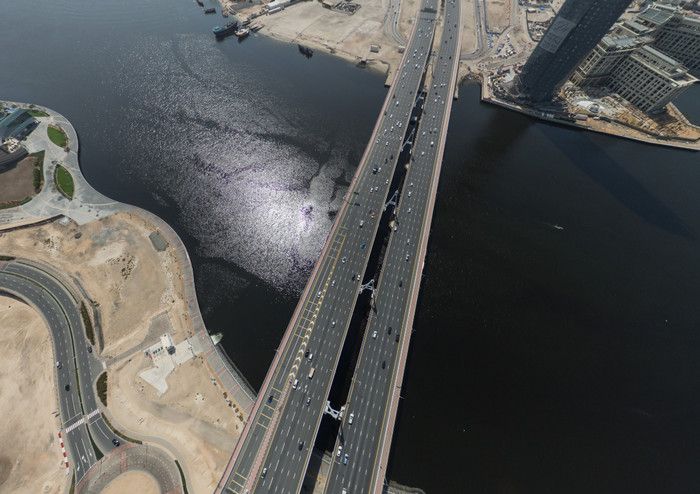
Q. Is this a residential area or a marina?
marina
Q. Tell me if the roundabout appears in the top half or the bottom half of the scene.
bottom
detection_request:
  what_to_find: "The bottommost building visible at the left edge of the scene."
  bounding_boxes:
[0,150,34,179]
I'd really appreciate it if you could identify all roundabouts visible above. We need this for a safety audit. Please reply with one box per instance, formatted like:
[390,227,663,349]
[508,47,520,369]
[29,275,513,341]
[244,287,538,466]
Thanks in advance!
[69,439,185,494]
